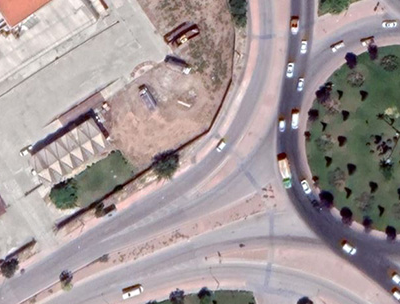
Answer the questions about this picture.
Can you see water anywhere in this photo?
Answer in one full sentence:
No, the picture contains no water.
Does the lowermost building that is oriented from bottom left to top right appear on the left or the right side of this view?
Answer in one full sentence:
The lowermost building that is oriented from bottom left to top right sits on the left side.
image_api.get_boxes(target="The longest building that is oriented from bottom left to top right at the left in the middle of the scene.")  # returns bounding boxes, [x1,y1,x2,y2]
[32,114,109,184]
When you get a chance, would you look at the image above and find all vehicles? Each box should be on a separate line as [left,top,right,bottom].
[215,139,227,152]
[301,40,308,54]
[291,17,298,33]
[392,290,400,300]
[137,83,156,111]
[301,179,311,194]
[342,242,357,254]
[277,155,292,190]
[392,274,400,284]
[101,205,118,217]
[164,58,187,75]
[120,285,143,299]
[92,209,106,221]
[382,20,397,27]
[287,62,294,76]
[360,38,374,46]
[278,119,285,131]
[331,42,344,52]
[292,110,299,126]
[297,76,305,91]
